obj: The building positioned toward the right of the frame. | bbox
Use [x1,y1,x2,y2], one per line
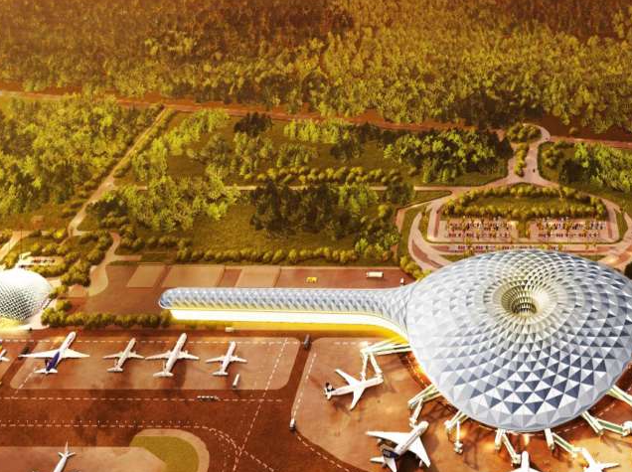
[158,249,632,432]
